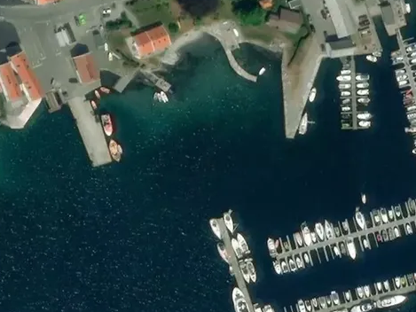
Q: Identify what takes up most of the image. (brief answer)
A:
water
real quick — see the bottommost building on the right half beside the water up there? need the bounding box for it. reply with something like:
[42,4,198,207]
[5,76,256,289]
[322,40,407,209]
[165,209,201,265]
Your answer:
[324,37,358,58]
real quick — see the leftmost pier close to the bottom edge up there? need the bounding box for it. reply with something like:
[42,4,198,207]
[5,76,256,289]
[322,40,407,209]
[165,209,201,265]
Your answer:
[214,217,254,312]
